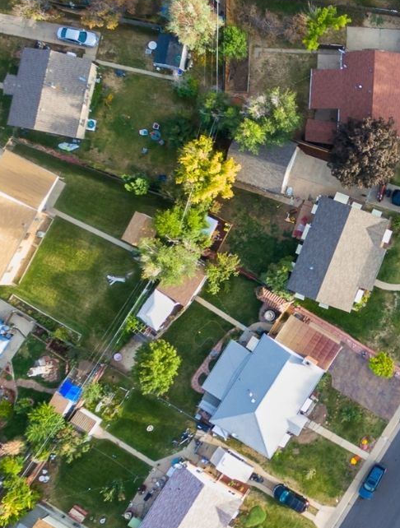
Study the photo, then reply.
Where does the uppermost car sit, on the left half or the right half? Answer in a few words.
left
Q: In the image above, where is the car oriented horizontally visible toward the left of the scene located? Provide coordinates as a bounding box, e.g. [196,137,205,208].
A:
[56,24,100,47]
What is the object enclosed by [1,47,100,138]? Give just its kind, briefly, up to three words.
house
